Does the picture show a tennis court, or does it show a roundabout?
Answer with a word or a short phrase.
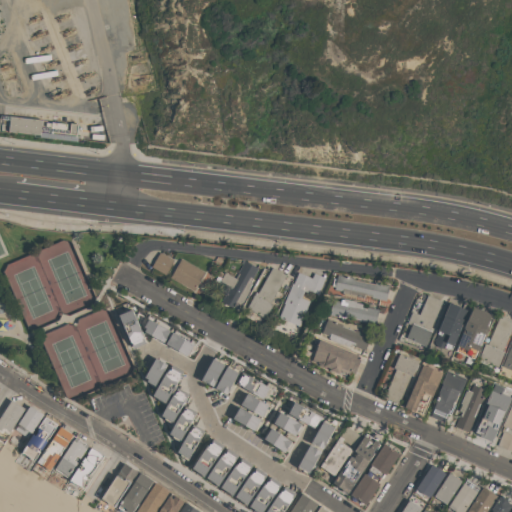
tennis court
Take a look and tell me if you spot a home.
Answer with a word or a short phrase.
Yes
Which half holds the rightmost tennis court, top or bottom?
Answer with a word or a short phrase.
bottom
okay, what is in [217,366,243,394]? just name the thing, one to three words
house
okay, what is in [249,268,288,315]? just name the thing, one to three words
house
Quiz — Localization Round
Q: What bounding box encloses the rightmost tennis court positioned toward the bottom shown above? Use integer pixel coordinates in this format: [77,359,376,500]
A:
[76,310,128,382]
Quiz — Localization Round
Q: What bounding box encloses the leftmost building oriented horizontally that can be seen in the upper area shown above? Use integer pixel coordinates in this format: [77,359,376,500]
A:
[10,116,44,136]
